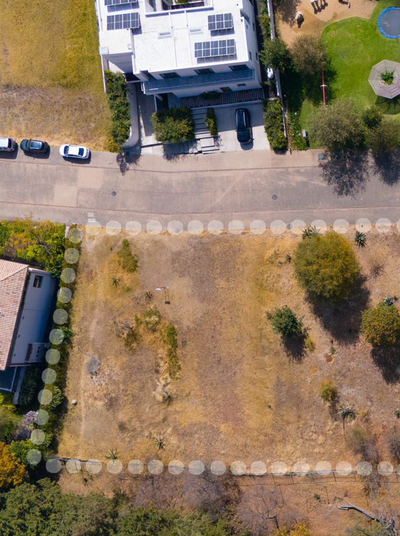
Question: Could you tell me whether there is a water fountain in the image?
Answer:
No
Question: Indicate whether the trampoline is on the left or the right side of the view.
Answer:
right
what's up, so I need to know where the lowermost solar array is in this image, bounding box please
[194,39,235,58]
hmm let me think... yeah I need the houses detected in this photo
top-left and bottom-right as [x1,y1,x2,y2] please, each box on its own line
[97,0,266,103]
[0,259,51,403]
